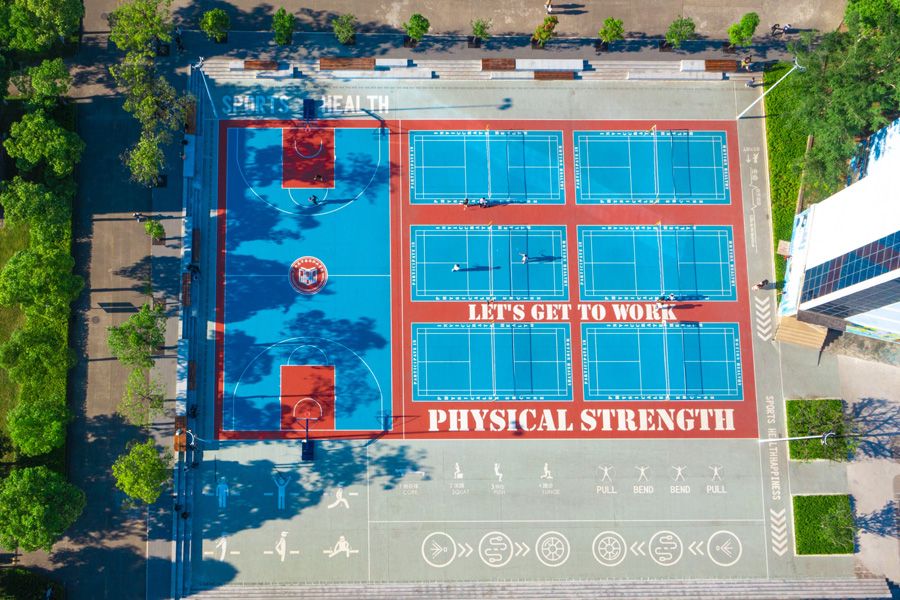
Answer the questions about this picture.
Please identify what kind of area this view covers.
sports ground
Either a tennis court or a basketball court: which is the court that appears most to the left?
basketball court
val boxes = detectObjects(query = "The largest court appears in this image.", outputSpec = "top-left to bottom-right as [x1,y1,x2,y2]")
[222,128,392,430]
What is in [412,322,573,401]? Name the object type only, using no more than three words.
sports court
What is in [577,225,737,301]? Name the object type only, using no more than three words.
sports court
